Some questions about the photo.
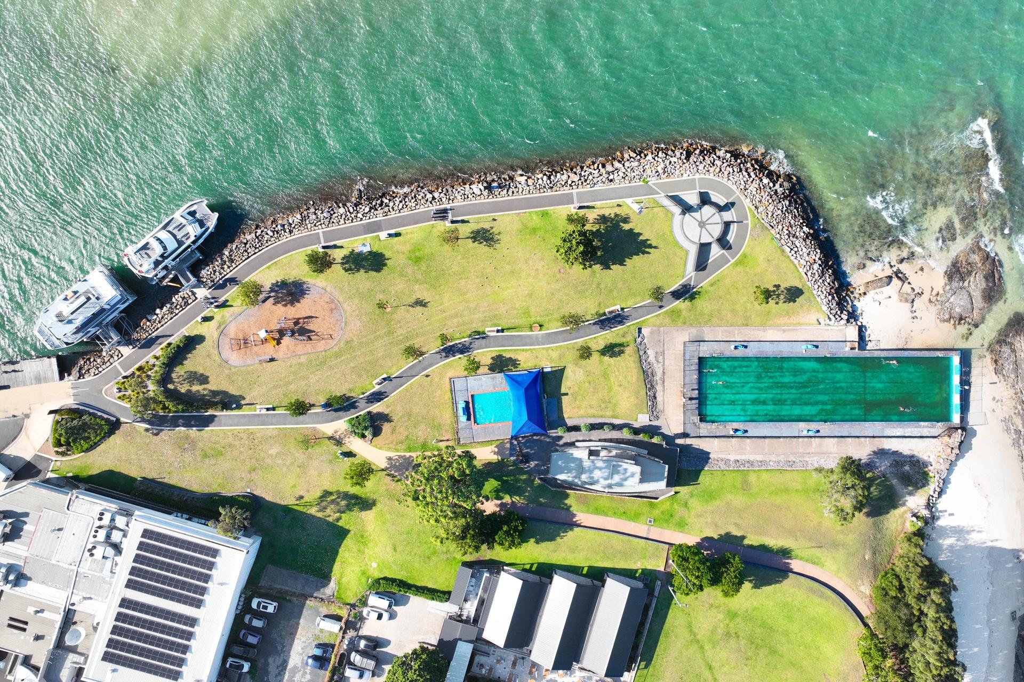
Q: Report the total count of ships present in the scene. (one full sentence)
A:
The picture shows 2 ships.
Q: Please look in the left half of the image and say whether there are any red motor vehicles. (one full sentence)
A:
No, I can find no red motor vehicle in the left half of the image.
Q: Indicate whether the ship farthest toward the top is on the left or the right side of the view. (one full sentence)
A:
You can find the ship farthest toward the top on the left side of the picture.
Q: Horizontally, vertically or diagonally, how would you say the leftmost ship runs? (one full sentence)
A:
I'd say the leftmost ship is aligned diagonally in the picture.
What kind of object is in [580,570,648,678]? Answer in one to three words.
building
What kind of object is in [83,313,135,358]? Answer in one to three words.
pier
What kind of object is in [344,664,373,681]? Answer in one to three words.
vehicle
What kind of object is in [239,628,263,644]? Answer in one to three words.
car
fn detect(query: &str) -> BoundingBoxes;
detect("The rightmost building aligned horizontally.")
[536,439,680,503]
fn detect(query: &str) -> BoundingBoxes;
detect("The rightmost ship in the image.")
[123,200,219,285]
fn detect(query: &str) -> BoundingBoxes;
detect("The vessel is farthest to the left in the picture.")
[35,266,138,349]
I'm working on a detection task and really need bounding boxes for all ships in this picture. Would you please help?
[123,200,219,285]
[35,266,138,349]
